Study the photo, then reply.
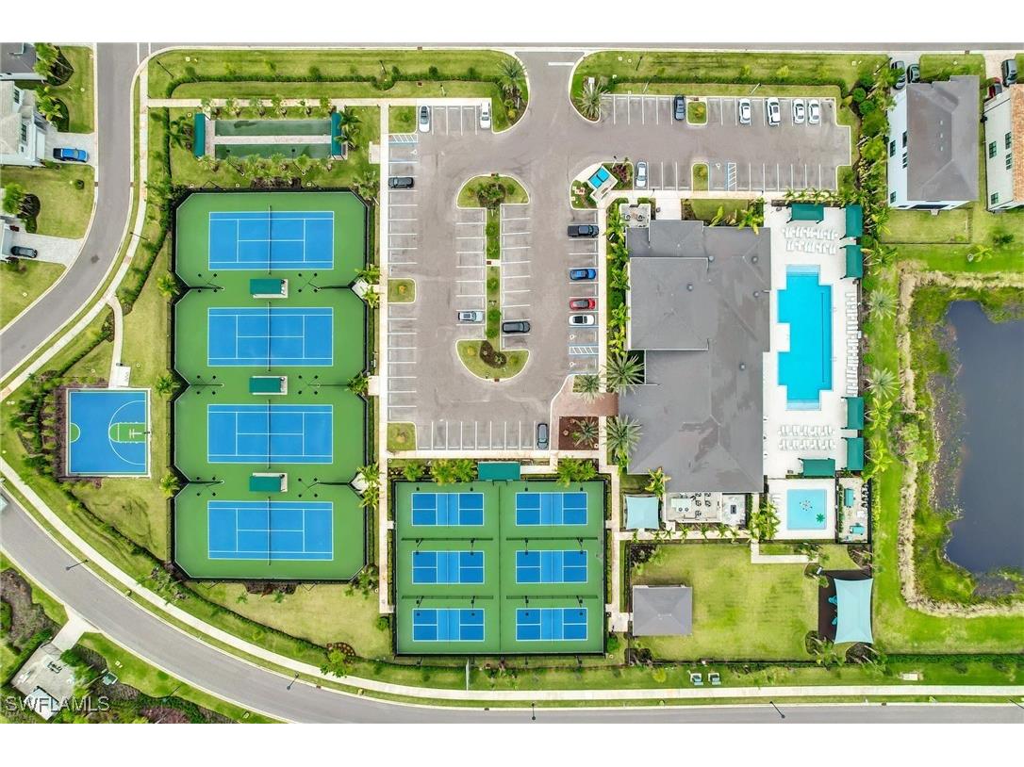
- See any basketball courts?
Yes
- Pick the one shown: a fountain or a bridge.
fountain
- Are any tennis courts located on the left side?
Yes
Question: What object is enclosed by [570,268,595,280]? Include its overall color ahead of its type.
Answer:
blue vehicle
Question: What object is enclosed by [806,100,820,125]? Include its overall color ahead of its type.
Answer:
white car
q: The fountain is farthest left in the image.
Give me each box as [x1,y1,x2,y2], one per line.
[587,169,616,198]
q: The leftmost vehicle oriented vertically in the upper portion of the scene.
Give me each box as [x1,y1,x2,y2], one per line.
[417,105,430,132]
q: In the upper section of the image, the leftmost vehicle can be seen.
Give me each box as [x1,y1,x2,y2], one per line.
[11,246,40,258]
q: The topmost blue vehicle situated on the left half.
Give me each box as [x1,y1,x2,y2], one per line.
[53,148,89,163]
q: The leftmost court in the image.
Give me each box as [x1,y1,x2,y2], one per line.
[66,388,151,477]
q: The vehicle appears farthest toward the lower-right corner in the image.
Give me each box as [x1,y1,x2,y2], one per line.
[536,423,549,448]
